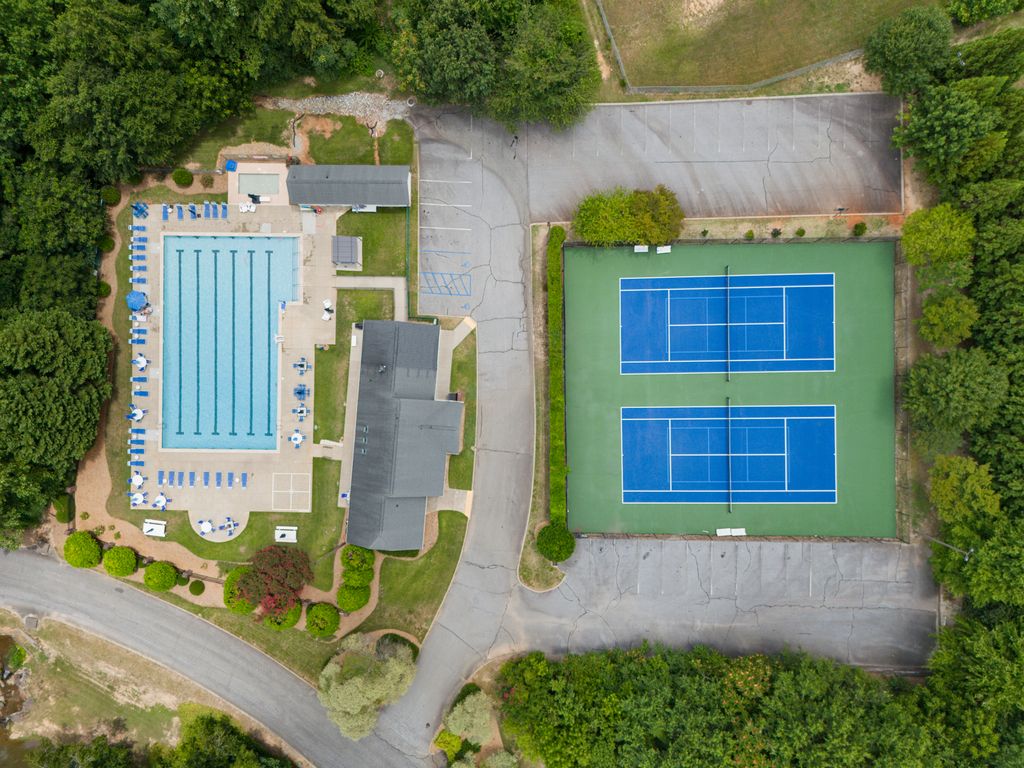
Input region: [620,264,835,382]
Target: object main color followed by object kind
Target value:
blue tennis court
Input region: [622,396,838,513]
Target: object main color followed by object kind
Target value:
blue tennis court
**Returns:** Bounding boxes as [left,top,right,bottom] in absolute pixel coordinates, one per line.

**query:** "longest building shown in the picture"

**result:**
[345,320,464,550]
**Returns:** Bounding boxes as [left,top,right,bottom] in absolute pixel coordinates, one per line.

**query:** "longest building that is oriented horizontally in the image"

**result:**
[286,165,412,207]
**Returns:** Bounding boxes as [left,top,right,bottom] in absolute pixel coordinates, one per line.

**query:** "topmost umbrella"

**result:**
[223,158,238,173]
